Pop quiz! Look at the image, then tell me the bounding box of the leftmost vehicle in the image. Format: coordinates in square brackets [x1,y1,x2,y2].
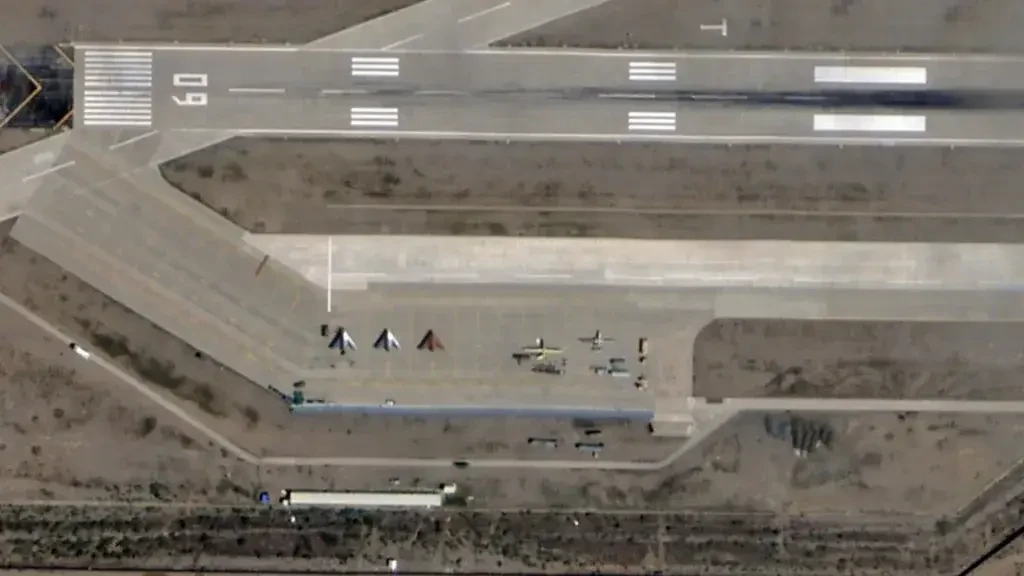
[70,344,90,359]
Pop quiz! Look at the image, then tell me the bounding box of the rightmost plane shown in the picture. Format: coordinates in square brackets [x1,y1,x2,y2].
[580,333,616,352]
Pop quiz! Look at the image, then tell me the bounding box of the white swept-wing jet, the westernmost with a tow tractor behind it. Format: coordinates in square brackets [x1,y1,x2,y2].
[332,328,356,351]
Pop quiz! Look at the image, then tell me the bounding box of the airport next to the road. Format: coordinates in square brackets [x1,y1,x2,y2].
[0,0,1024,412]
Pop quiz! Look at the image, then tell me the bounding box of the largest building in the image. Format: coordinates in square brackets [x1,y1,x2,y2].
[289,493,441,507]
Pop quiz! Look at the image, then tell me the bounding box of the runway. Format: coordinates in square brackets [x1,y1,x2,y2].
[72,43,1024,145]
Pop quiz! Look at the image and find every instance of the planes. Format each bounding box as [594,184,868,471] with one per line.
[580,333,616,352]
[377,328,400,352]
[512,355,529,365]
[421,329,444,353]
[523,339,562,361]
[332,328,356,351]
